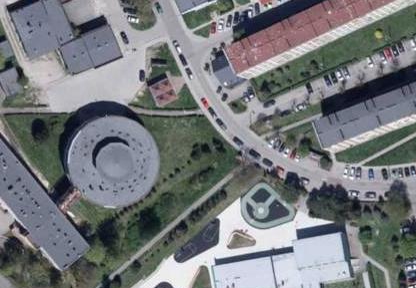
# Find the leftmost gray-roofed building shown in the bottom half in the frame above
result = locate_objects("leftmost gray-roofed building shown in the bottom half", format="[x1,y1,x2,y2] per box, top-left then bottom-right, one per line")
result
[0,126,99,272]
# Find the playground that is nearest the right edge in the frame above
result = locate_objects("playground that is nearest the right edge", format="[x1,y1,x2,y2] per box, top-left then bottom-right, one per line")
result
[241,183,296,228]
